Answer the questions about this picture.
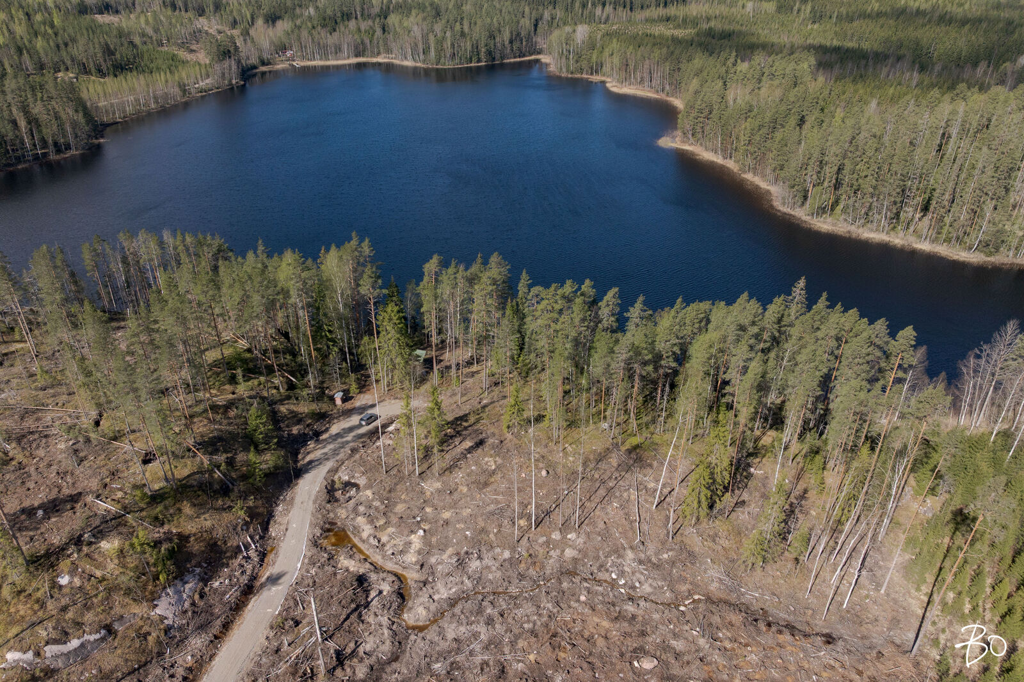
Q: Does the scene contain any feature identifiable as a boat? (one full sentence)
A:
No, I can see no boat in this picture.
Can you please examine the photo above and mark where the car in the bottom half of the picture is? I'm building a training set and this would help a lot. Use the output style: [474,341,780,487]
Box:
[358,414,381,428]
